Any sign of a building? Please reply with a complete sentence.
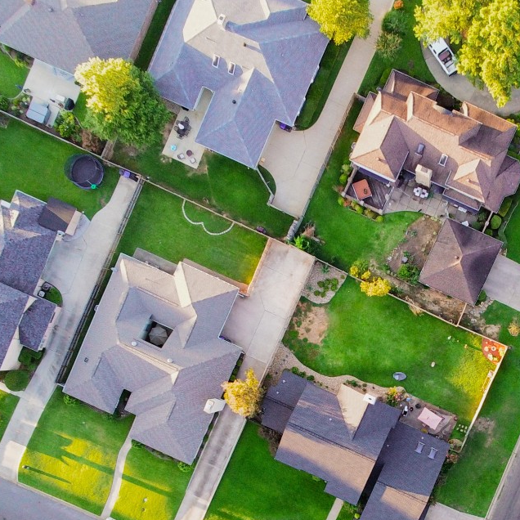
Yes, the picture does show a building.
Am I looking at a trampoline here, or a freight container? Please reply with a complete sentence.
There is a trampoline in the scene.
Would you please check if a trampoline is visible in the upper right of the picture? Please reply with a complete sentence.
No, looking in the upper right of the picture, there is no trampoline.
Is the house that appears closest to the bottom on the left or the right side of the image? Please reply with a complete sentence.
You can find the house that appears closest to the bottom on the right side of the picture.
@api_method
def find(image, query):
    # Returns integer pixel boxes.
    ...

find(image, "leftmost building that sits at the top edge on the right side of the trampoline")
[148,0,334,169]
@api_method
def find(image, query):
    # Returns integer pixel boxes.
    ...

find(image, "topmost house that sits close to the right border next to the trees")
[349,68,520,216]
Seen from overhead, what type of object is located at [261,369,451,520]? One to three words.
house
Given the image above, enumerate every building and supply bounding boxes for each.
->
[0,0,162,78]
[0,190,69,374]
[62,253,243,465]
[349,68,520,216]
[419,217,504,306]
[148,0,334,169]
[261,369,451,520]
